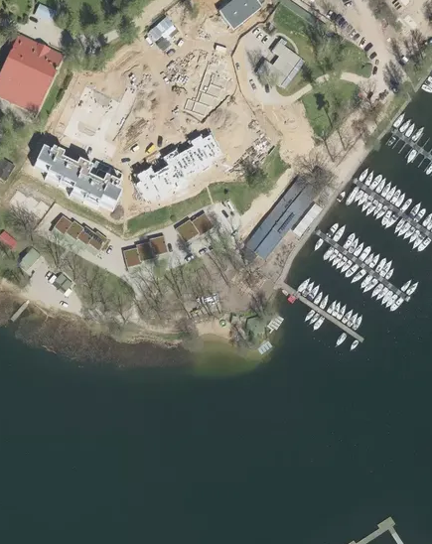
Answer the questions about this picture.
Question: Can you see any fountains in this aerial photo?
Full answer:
No, this view has no fountain in it.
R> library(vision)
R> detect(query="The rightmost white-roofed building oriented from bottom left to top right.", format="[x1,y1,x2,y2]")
[295,205,321,238]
